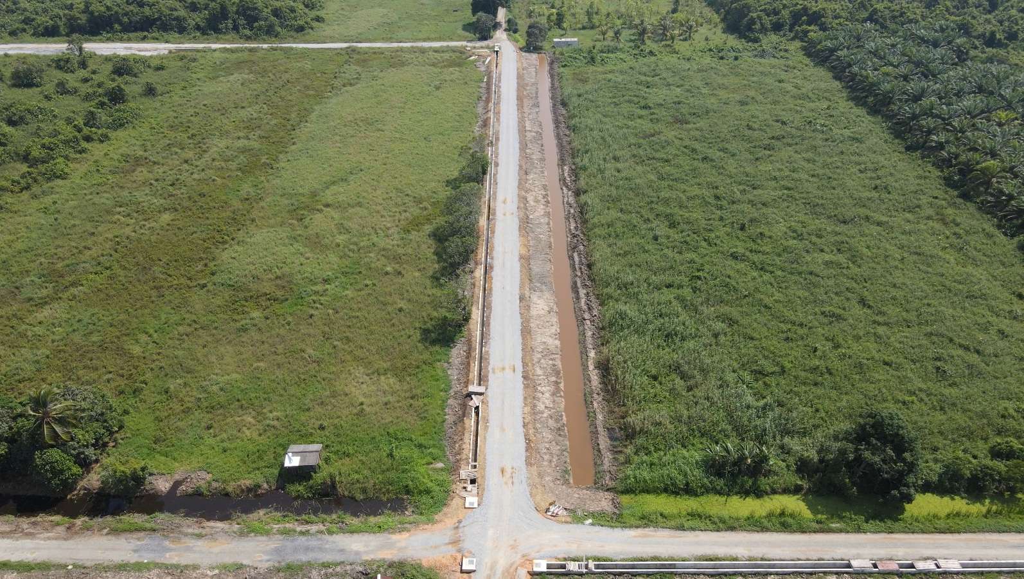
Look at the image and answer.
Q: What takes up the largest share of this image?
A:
grass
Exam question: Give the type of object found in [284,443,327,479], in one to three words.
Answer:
shed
